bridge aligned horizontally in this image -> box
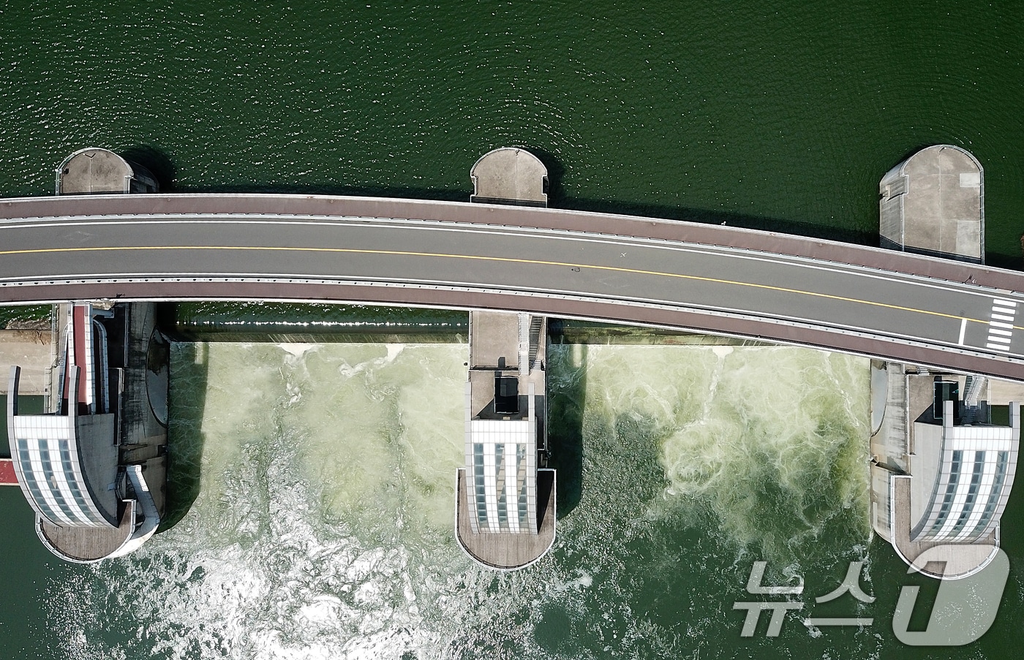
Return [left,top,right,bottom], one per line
[0,193,1024,384]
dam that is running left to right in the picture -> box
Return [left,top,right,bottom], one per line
[0,146,1024,576]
